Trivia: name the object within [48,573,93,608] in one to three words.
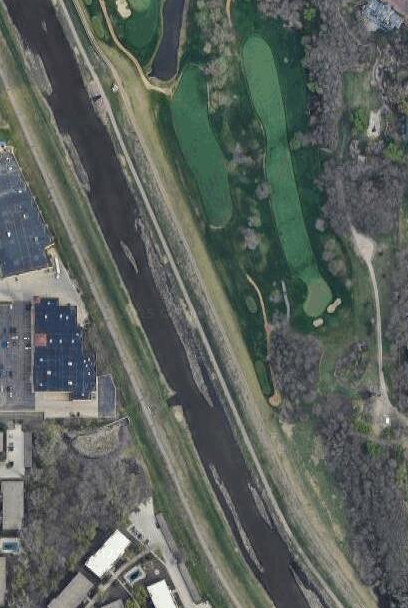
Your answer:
building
